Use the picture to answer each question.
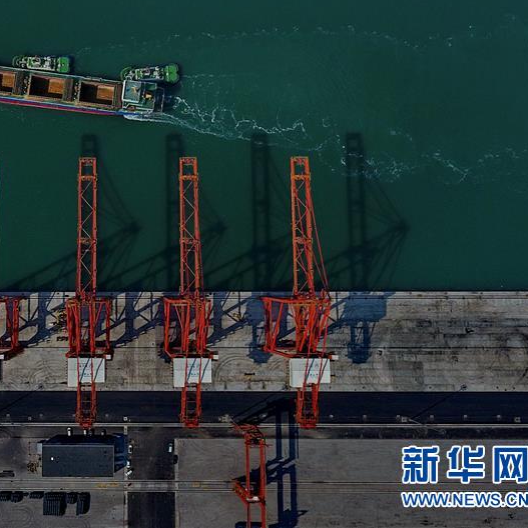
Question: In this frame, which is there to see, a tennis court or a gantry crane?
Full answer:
There is a gantry crane in the scene.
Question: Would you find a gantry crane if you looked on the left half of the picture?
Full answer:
Yes, a gantry crane can be seen on the left half of the picture.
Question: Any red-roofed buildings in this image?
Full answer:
No, the photo shows no red-roofed building.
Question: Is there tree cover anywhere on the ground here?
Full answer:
No, there is no tree cover in the image.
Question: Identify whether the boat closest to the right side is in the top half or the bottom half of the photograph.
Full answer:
It is in the top half that the boat closest to the right side appears.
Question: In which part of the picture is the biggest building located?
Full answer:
The biggest building sits in the bottom left section of the image.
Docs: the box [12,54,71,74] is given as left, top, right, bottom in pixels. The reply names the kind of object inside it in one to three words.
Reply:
boat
